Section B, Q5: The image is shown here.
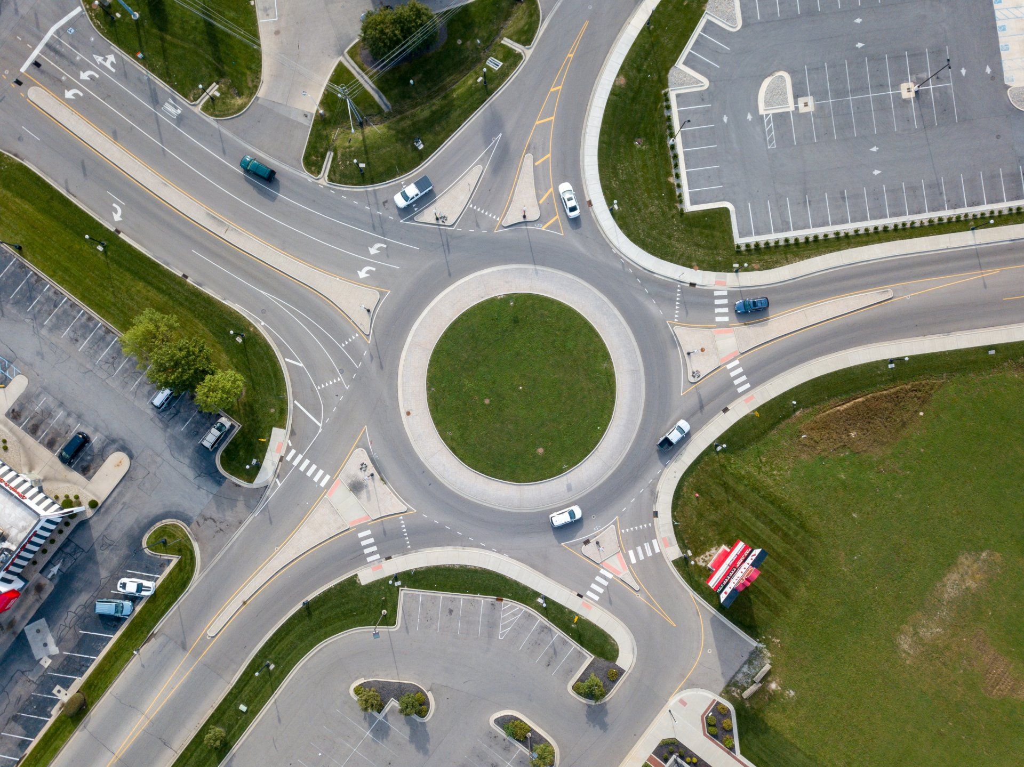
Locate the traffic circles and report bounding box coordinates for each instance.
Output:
[398,264,645,512]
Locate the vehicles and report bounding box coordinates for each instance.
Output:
[559,182,580,219]
[60,431,92,465]
[733,297,769,314]
[653,418,691,455]
[118,577,156,596]
[96,599,134,617]
[201,417,232,451]
[394,173,436,208]
[148,382,175,410]
[241,157,278,183]
[548,505,582,528]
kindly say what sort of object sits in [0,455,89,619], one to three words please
building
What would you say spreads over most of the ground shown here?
paved ground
